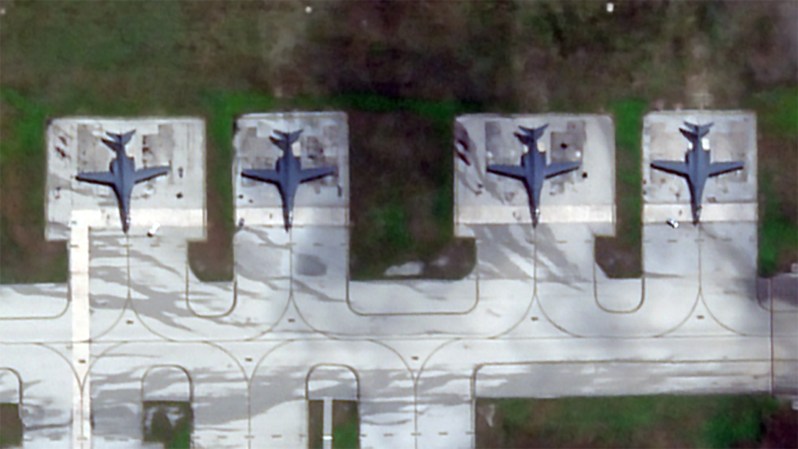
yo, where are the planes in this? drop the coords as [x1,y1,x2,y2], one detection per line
[242,129,335,228]
[651,122,745,222]
[488,126,581,226]
[76,130,170,231]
